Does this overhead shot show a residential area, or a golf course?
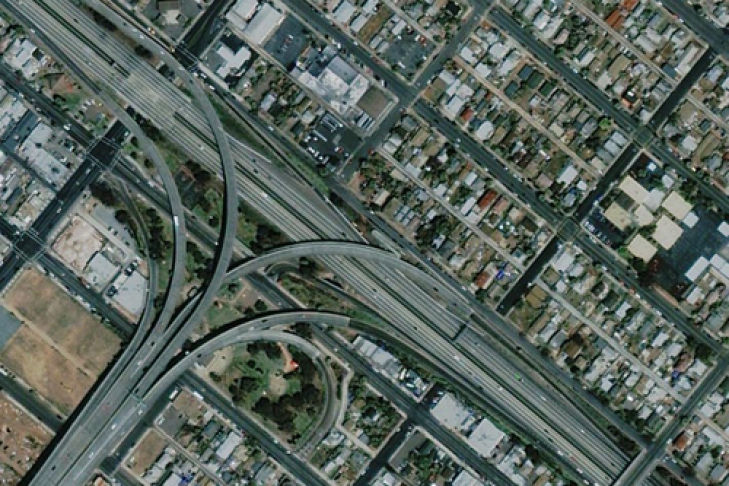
residential area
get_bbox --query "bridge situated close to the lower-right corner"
[609,416,687,486]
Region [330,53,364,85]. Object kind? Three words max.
building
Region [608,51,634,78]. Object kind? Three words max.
house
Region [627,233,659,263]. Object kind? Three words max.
building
